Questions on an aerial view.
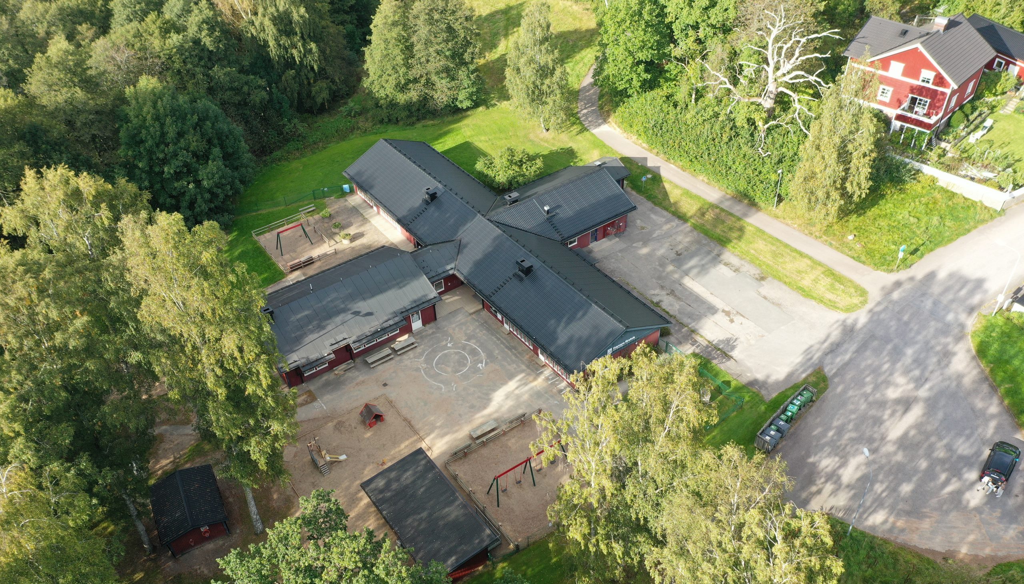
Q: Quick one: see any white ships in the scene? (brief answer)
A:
No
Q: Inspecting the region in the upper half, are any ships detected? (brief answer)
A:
No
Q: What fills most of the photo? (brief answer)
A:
trees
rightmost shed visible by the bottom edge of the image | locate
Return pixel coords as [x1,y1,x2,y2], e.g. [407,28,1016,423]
[358,445,503,584]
